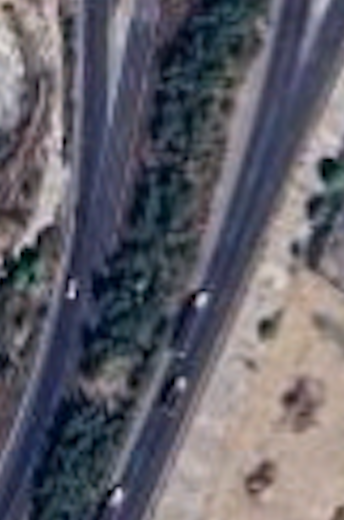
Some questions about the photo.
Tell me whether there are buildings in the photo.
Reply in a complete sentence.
No, the frame has no building in it.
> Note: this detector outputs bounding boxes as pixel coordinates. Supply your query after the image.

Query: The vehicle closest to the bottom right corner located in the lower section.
[166,377,184,402]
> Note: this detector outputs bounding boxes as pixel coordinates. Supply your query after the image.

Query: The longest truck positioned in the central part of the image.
[181,294,204,331]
